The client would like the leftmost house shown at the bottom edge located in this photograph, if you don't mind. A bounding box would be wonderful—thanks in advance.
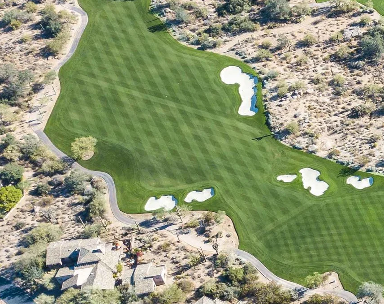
[46,237,123,296]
